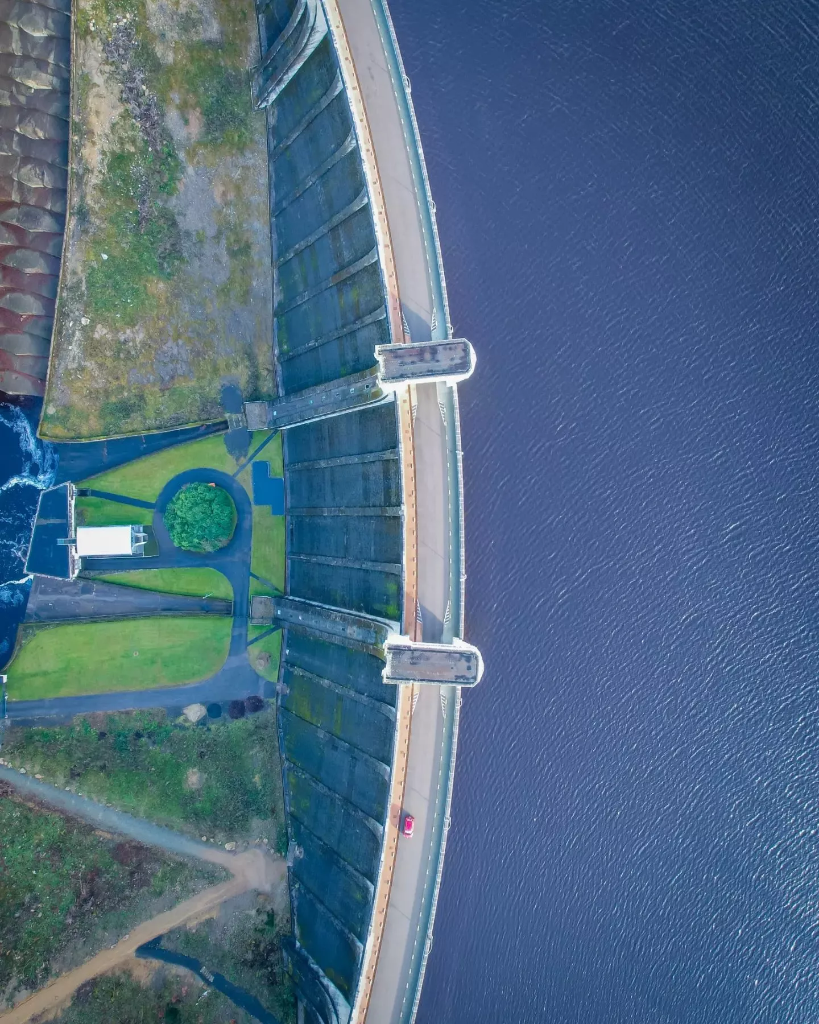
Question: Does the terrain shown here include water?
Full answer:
Yes, there's water in this view.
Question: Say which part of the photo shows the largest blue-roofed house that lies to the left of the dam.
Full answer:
You can find the largest blue-roofed house that lies to the left of the dam in the left area of the picture.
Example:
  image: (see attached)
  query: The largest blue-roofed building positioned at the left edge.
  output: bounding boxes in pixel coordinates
[24,482,89,580]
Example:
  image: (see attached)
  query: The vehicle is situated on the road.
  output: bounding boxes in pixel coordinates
[403,817,415,839]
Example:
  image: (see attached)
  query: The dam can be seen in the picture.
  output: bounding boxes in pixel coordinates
[253,0,465,1024]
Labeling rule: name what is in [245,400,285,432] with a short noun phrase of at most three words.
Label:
building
